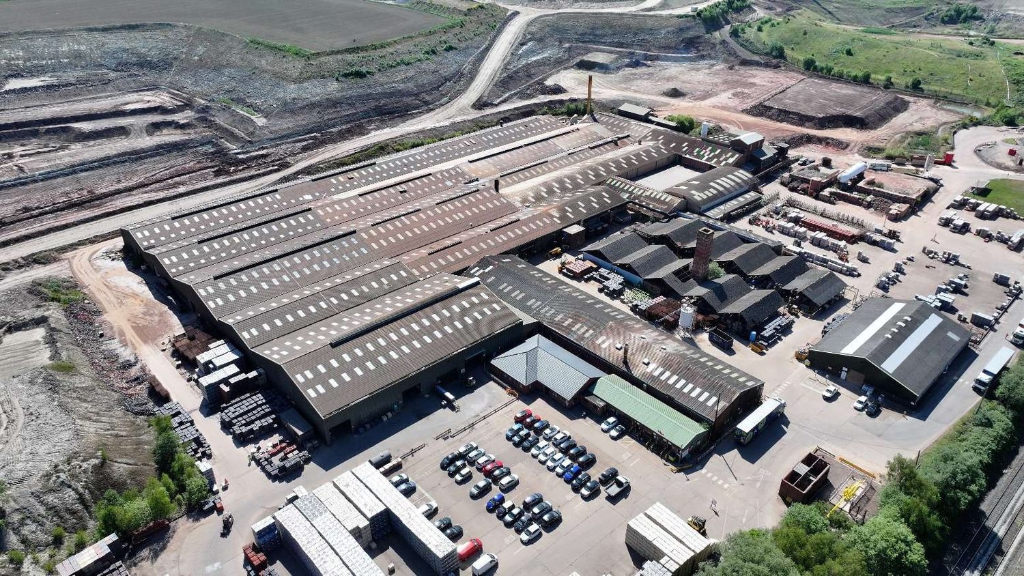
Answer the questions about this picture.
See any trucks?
Yes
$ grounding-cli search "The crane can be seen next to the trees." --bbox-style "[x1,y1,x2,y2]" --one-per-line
[827,471,873,515]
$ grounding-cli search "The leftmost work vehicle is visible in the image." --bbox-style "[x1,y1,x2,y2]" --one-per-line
[218,507,240,533]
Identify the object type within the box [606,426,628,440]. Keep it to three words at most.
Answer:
car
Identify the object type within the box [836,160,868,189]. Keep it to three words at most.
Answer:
storage tank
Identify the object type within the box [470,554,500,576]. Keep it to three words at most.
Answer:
vehicle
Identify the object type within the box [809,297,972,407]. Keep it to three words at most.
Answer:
shed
